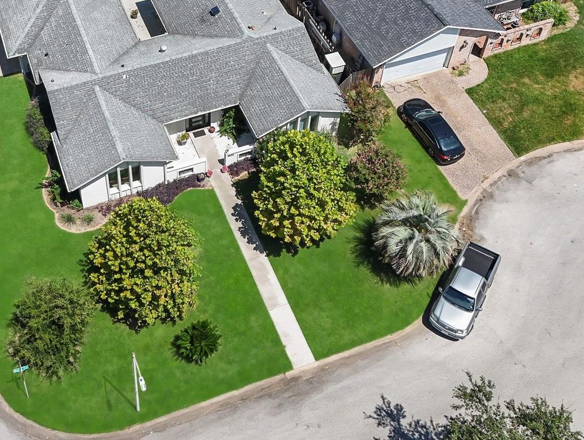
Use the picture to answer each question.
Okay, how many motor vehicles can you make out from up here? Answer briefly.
2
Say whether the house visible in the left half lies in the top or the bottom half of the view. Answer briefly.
top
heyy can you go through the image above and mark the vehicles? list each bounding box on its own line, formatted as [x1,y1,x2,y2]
[400,100,465,165]
[430,243,498,343]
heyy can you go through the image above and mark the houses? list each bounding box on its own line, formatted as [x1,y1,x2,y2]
[0,0,351,204]
[308,0,551,86]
